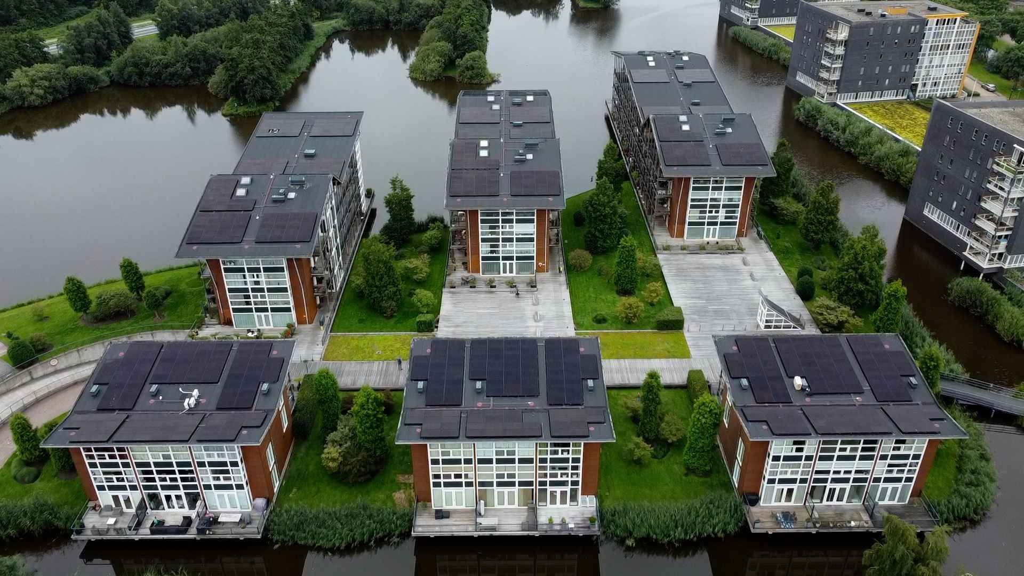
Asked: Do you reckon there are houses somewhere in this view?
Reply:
Yes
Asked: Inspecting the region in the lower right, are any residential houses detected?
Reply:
Yes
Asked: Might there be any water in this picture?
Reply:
Yes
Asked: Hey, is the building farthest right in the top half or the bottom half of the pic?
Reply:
top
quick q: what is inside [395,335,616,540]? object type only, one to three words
house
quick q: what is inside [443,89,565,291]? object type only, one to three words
building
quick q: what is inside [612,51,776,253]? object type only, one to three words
building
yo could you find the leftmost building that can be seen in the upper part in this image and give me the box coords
[176,110,374,346]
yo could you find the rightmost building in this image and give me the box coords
[904,90,1024,276]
